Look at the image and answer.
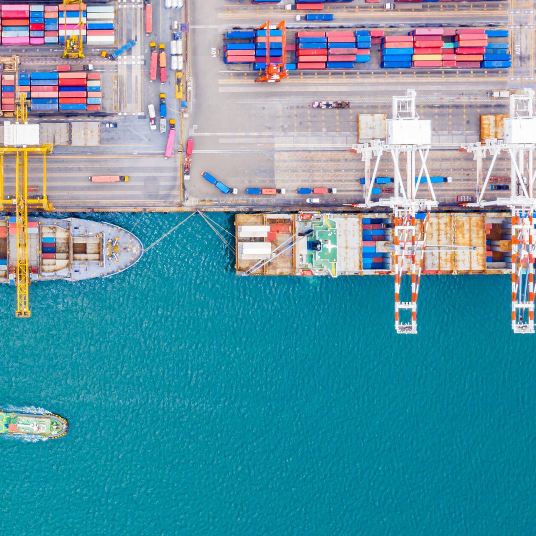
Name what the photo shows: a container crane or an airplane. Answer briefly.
container crane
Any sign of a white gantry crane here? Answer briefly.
Yes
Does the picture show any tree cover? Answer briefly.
No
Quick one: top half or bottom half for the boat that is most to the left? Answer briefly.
bottom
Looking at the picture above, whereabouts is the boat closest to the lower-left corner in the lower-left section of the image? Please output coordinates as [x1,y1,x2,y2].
[0,410,70,440]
